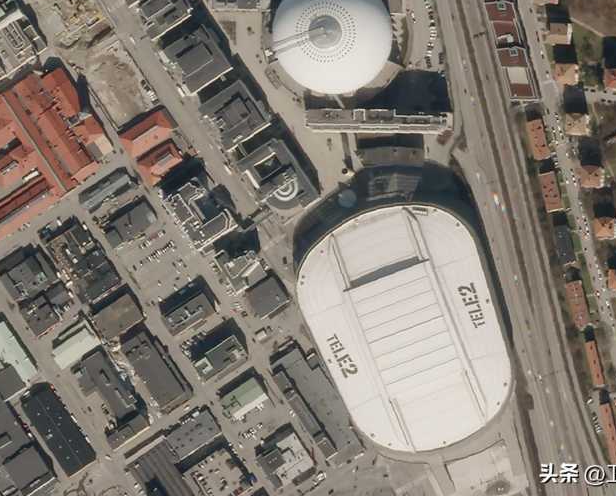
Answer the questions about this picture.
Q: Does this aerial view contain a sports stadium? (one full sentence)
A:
Yes, a sports stadium can be made out from above.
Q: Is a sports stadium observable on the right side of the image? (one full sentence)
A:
Yes, a sports stadium is visible on the right side of the image.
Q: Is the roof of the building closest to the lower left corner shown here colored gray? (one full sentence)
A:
Yes, the roof of the building closest to the lower left corner appears gray.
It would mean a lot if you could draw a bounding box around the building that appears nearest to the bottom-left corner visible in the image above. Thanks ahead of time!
[4,447,57,496]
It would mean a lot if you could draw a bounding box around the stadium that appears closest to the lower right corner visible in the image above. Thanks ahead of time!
[297,206,513,453]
